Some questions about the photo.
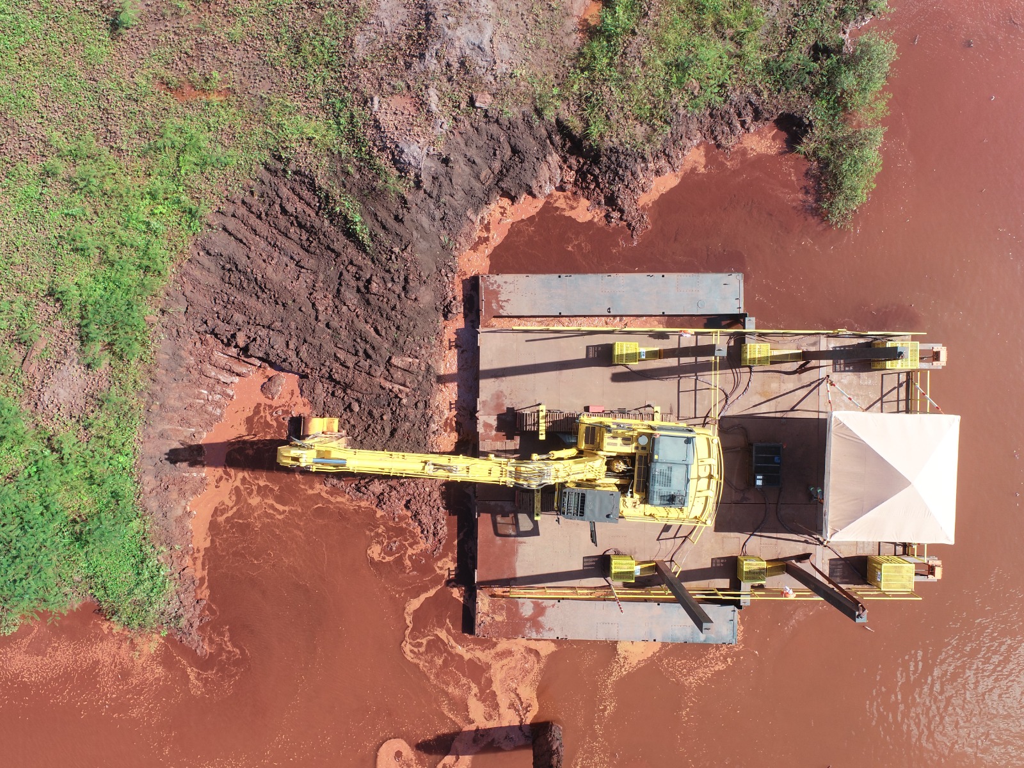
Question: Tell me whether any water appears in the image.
Yes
